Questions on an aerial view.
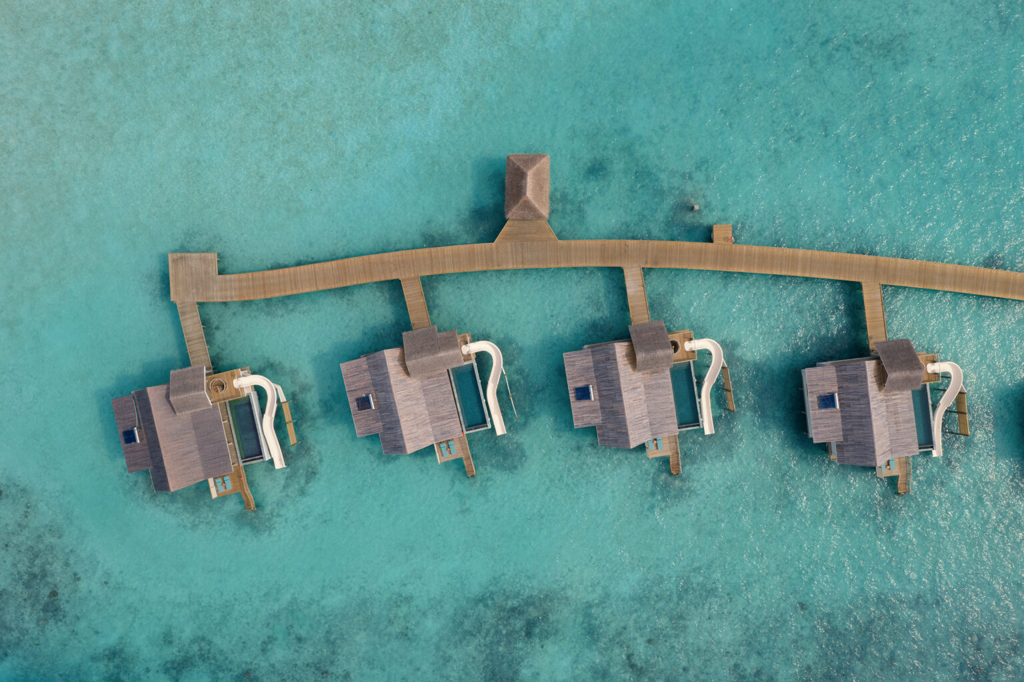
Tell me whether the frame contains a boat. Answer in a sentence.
No, I find no boat anywhere in the image.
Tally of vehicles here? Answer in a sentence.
There are no vehicles in this view.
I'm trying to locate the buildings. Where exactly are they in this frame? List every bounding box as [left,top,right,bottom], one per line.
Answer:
[563,319,697,474]
[505,153,551,221]
[795,339,941,495]
[111,364,271,510]
[340,324,478,476]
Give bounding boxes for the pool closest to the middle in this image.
[450,361,490,433]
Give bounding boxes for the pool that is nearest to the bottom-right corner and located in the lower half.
[913,384,935,450]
